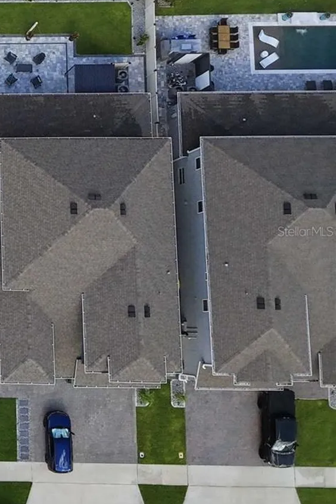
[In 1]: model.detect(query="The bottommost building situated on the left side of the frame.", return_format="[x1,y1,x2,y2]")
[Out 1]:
[0,90,183,389]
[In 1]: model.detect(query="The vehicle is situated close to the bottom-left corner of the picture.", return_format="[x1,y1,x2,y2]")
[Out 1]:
[42,409,76,475]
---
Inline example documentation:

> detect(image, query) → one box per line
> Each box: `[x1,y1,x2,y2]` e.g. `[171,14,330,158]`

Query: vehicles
[42,409,76,475]
[259,388,299,468]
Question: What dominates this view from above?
buildings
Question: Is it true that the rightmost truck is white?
No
